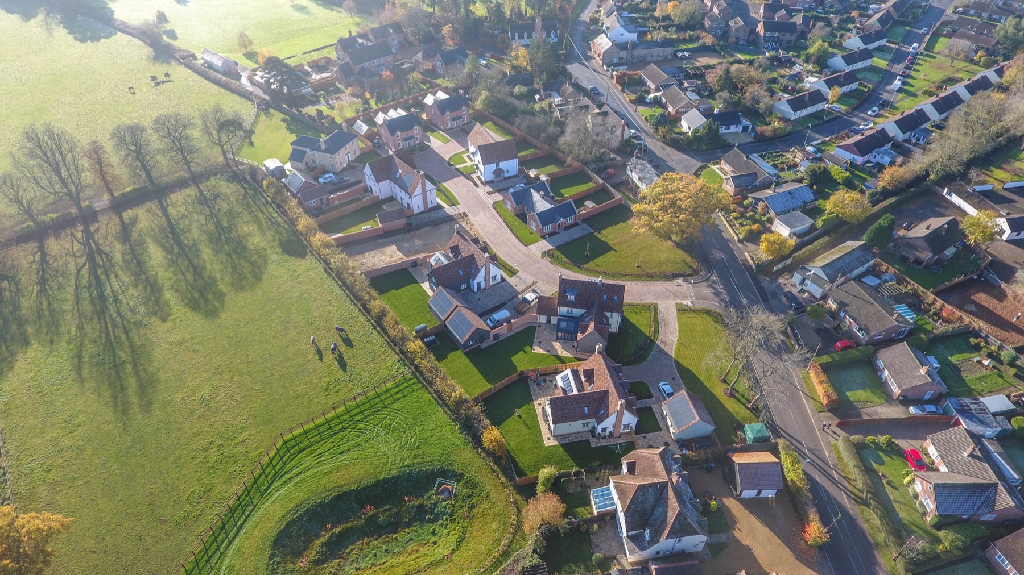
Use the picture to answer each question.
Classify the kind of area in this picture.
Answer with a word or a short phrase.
residential area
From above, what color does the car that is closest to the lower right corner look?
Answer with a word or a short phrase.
red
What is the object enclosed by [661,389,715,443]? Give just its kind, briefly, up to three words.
building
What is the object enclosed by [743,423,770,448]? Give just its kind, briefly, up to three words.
gazebo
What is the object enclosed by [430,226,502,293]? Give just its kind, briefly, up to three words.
house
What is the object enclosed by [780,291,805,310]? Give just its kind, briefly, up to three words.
car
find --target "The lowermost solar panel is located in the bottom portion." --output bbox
[666,395,695,429]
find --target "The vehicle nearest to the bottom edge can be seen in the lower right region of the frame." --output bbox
[901,449,926,472]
